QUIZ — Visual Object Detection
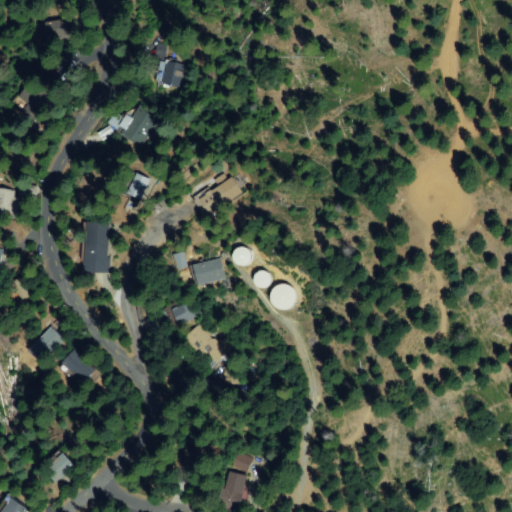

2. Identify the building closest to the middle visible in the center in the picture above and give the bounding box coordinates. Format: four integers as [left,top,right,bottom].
[194,258,226,285]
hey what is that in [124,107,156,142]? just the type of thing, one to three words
house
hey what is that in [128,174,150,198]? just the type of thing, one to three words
house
